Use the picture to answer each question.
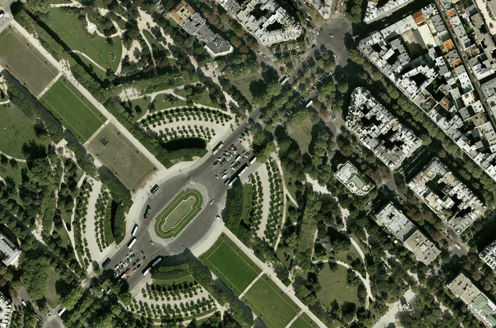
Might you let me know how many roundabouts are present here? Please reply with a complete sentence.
The picture shows just 1 roundabout.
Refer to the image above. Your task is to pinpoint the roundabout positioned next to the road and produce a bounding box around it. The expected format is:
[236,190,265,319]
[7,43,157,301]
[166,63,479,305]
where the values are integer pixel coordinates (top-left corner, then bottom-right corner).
[121,162,234,261]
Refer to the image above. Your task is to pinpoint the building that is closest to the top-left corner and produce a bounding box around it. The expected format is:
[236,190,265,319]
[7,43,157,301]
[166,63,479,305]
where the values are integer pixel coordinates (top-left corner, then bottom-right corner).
[170,0,195,28]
